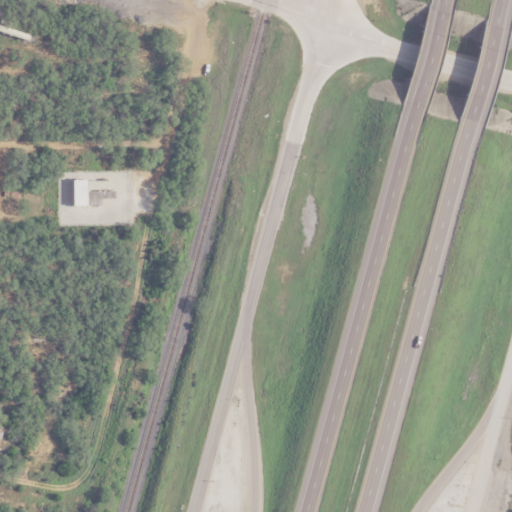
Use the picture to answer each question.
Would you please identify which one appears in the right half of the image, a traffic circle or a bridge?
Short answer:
bridge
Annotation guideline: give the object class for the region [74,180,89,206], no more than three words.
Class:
shed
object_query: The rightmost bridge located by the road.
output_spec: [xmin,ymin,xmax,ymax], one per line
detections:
[462,9,512,131]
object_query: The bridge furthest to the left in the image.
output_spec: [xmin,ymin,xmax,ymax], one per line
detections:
[402,0,458,118]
